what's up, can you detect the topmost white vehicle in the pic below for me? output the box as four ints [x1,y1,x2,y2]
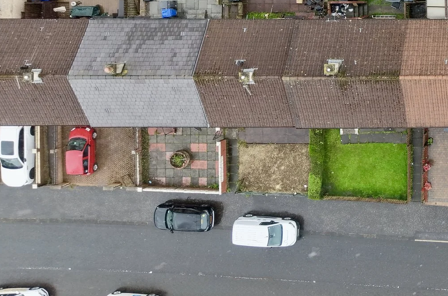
[0,127,34,187]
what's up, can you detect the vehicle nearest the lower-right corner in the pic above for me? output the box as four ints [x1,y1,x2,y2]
[231,214,304,252]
